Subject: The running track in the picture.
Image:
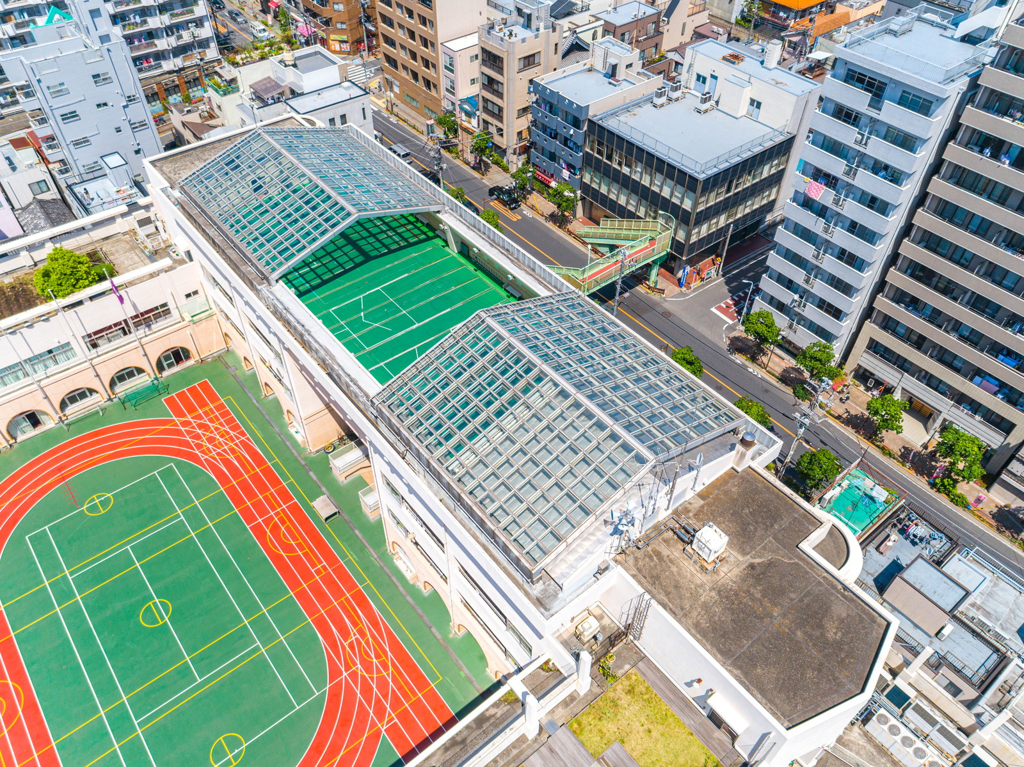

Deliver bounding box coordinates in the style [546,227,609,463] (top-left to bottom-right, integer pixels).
[0,381,458,767]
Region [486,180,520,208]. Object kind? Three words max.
car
